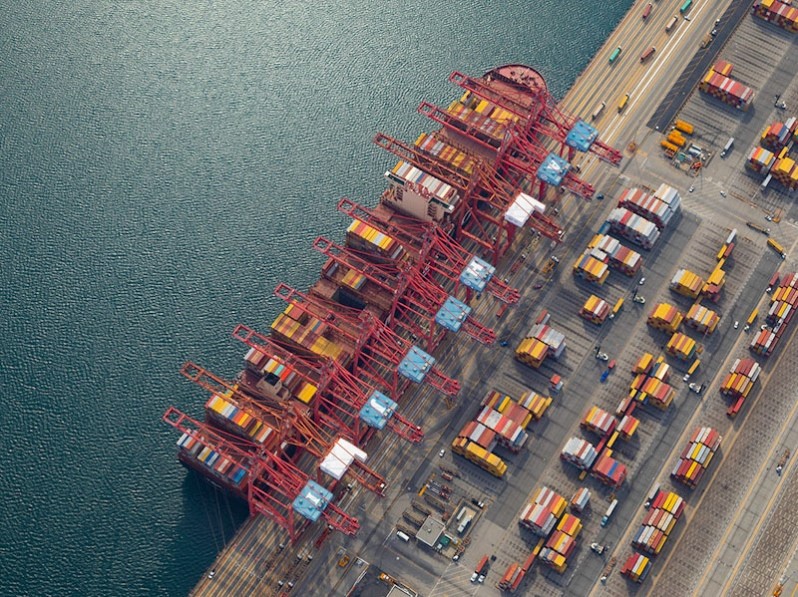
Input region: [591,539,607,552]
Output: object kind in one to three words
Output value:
vehicle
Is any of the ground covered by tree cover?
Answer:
No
